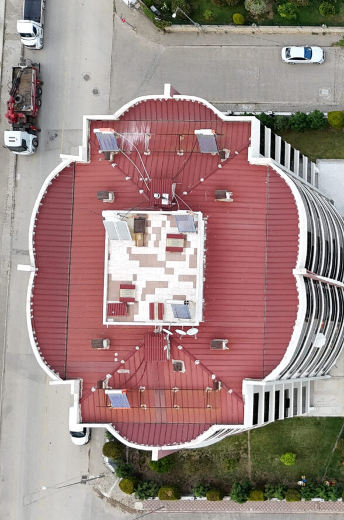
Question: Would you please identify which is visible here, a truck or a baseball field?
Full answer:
There is a truck in the scene.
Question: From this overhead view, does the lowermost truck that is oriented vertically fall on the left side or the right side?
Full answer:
The lowermost truck that is oriented vertically is on the left side of the image.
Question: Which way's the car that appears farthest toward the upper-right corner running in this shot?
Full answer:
I'd say the car that appears farthest toward the upper-right corner is aligned from side to side in the picture.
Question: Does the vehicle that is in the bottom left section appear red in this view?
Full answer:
No, the vehicle that is in the bottom left section is white.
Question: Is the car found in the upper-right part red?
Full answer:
No, the color of the car found in the upper-right part is white.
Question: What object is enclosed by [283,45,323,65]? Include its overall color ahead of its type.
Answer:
white car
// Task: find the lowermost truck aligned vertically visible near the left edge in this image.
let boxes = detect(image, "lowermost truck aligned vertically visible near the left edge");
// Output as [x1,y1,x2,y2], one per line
[3,53,46,155]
